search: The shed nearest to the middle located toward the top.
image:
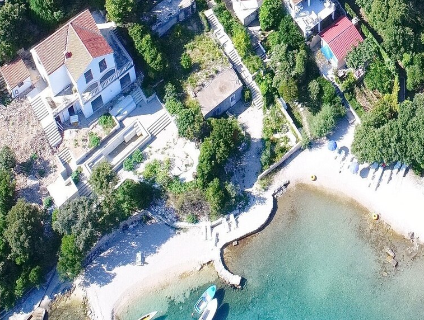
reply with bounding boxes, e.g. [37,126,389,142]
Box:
[194,68,243,121]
